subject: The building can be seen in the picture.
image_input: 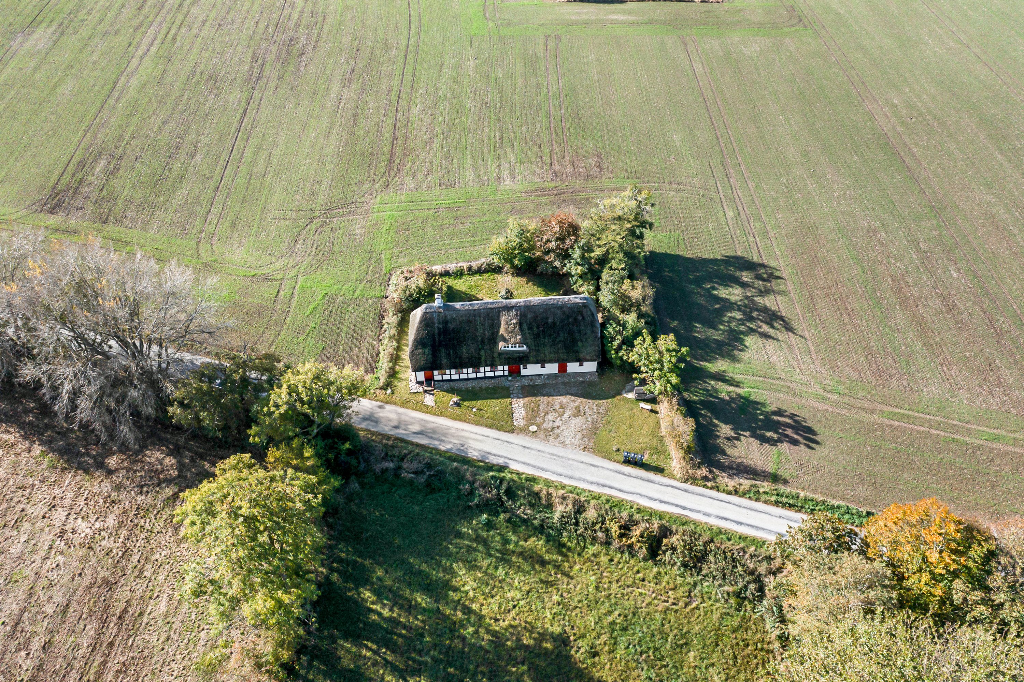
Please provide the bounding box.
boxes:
[406,292,603,383]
